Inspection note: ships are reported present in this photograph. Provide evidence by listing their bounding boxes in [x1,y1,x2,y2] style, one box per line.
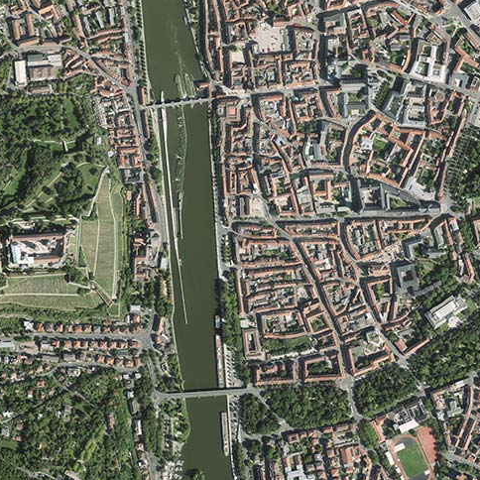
[221,413,227,457]
[215,334,224,387]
